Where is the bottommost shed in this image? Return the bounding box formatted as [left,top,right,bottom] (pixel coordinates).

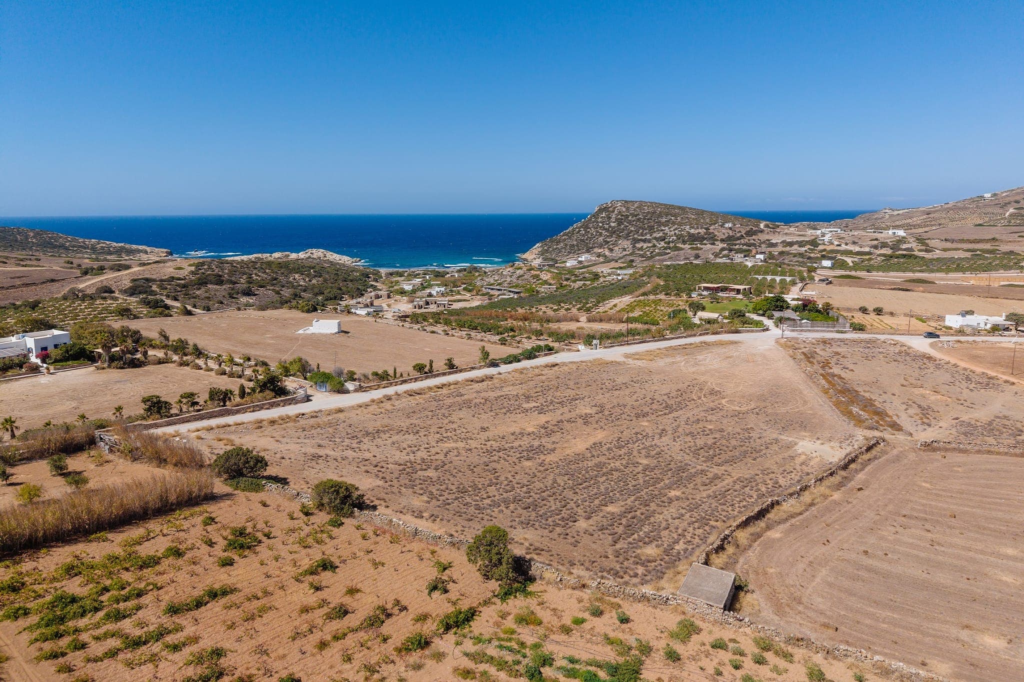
[677,563,736,627]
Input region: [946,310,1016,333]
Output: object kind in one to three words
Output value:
house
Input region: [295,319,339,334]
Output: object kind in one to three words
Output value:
building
